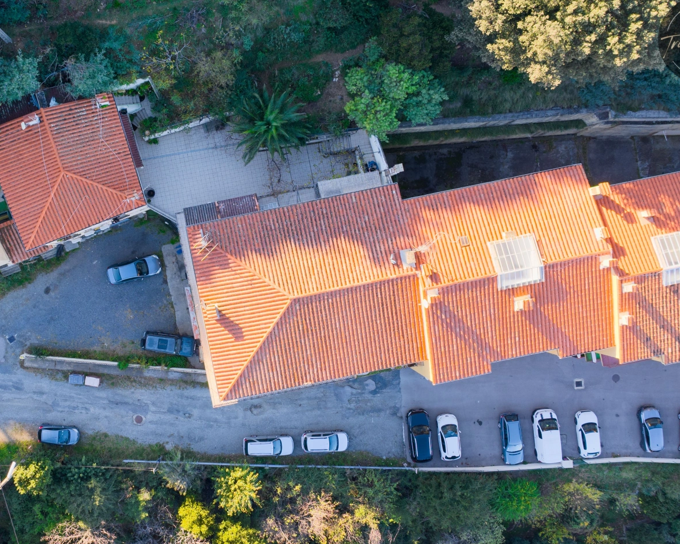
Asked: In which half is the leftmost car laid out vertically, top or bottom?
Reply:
bottom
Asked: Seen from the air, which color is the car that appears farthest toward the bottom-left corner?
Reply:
blue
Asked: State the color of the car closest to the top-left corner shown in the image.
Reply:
blue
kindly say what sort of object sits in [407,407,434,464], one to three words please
car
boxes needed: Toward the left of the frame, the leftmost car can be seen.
[38,424,81,448]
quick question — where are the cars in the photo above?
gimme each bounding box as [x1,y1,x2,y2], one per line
[498,412,526,464]
[407,407,434,464]
[436,413,463,461]
[637,405,667,453]
[243,433,293,459]
[139,333,196,359]
[300,429,348,455]
[573,409,602,458]
[107,256,163,285]
[38,424,81,448]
